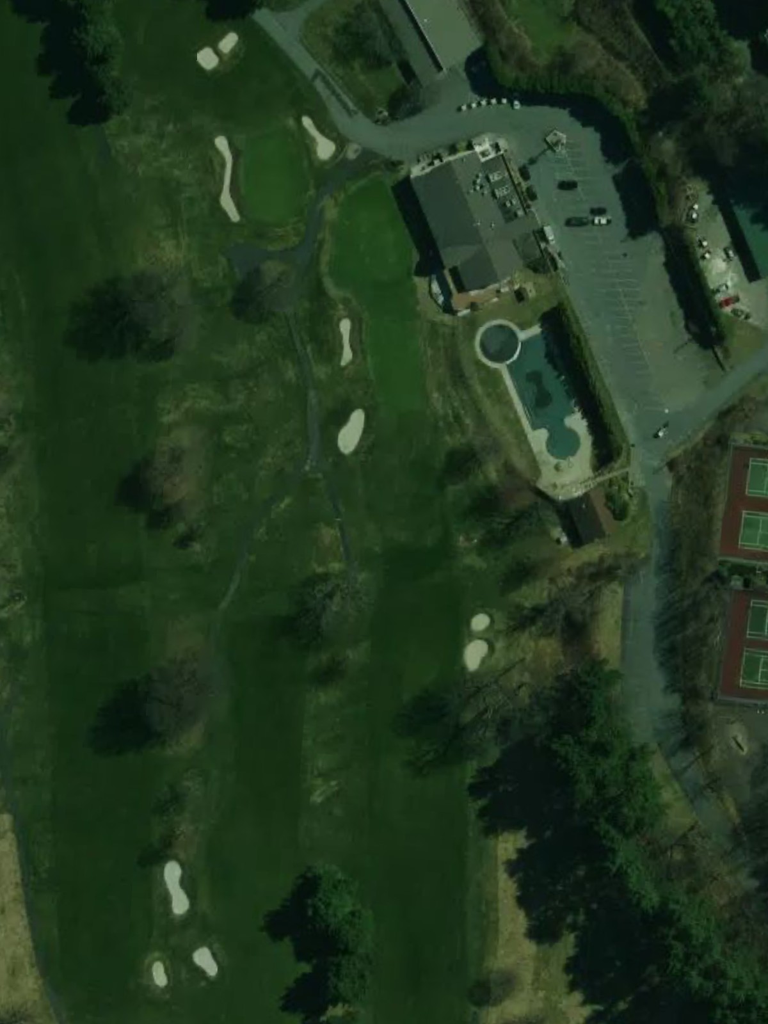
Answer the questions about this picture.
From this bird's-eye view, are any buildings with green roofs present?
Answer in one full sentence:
Yes, the picture does show a building with a green roof.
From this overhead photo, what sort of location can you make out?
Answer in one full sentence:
This looks like a golf course.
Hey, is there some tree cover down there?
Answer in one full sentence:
Yes, the picture does contain tree cover.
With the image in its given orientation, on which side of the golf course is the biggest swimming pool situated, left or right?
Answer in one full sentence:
Relative to the golf course, the biggest swimming pool is on the right.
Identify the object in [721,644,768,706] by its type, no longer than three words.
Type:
tennis court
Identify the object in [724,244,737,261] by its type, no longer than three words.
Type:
vehicle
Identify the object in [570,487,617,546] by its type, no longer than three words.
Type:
building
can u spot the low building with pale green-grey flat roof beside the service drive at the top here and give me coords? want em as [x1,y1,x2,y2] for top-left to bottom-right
[406,0,483,69]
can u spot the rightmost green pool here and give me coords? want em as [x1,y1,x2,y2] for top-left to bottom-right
[502,325,598,502]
